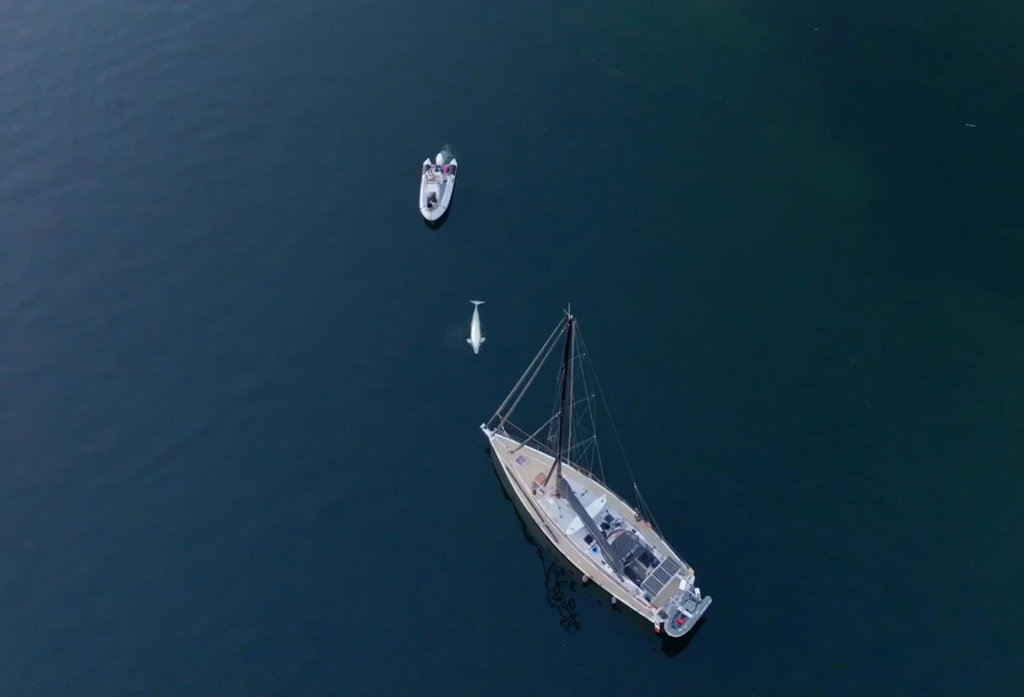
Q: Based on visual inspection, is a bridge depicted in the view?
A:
No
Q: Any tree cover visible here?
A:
No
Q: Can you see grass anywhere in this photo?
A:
No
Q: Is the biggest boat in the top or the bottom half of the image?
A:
bottom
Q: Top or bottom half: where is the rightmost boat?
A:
bottom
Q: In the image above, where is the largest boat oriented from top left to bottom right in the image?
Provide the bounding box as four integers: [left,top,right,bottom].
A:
[477,307,701,628]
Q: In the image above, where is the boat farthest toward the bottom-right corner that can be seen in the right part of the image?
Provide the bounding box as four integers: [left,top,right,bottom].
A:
[663,590,714,636]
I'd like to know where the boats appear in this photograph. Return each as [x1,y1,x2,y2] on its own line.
[420,152,457,220]
[663,590,714,636]
[477,307,701,628]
